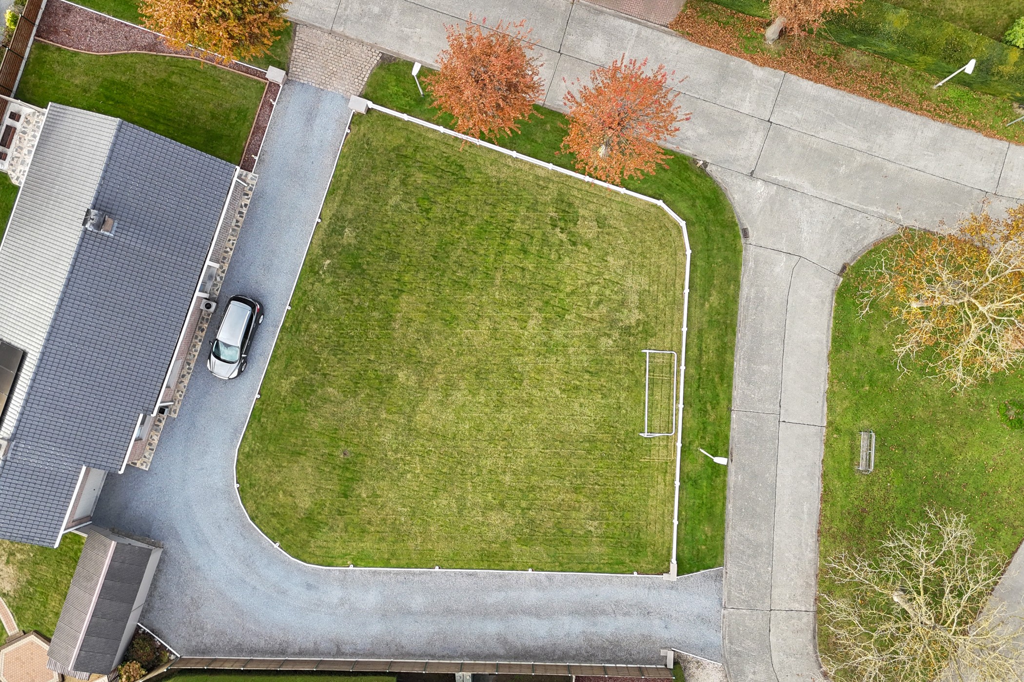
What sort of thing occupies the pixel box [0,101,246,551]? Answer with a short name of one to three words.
house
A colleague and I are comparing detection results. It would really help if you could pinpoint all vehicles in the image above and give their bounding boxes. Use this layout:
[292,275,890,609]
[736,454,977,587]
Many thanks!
[205,293,264,382]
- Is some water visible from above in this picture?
No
